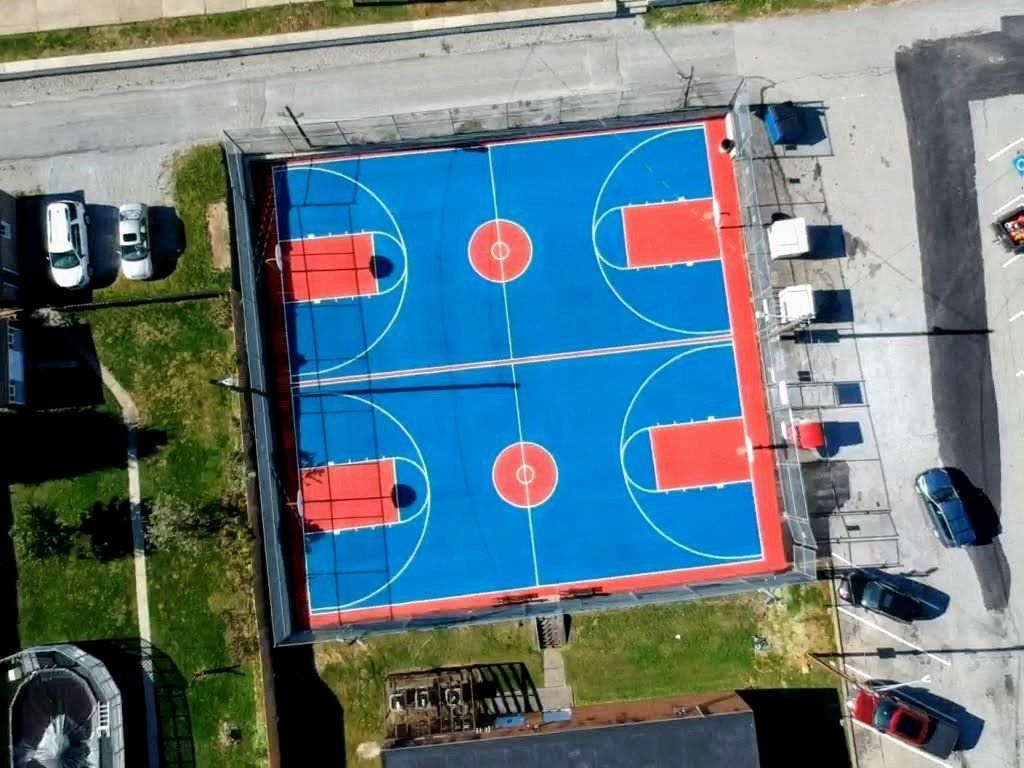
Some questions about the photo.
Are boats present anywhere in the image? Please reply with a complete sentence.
No, no boat can be seen from above.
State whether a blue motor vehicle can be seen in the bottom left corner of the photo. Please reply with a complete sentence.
No, the scene shows no blue motor vehicle in the bottom left corner of the photo.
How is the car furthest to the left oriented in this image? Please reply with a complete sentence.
The car furthest to the left is oriented up and down.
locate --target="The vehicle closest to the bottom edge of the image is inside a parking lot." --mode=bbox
[850,690,958,754]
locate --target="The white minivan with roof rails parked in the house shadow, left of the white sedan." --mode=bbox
[40,197,90,289]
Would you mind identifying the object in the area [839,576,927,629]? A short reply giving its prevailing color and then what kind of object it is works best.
black car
